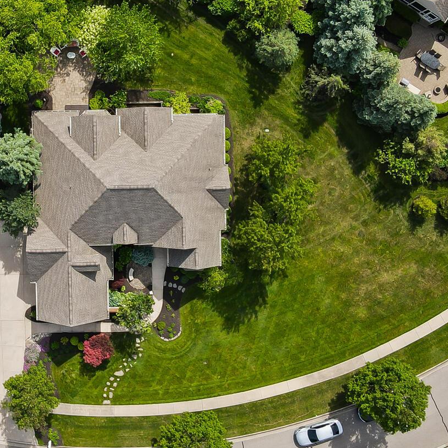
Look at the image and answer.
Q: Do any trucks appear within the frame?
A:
No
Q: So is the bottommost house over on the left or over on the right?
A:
left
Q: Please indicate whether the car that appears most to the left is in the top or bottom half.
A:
bottom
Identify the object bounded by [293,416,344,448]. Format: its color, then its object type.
white car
